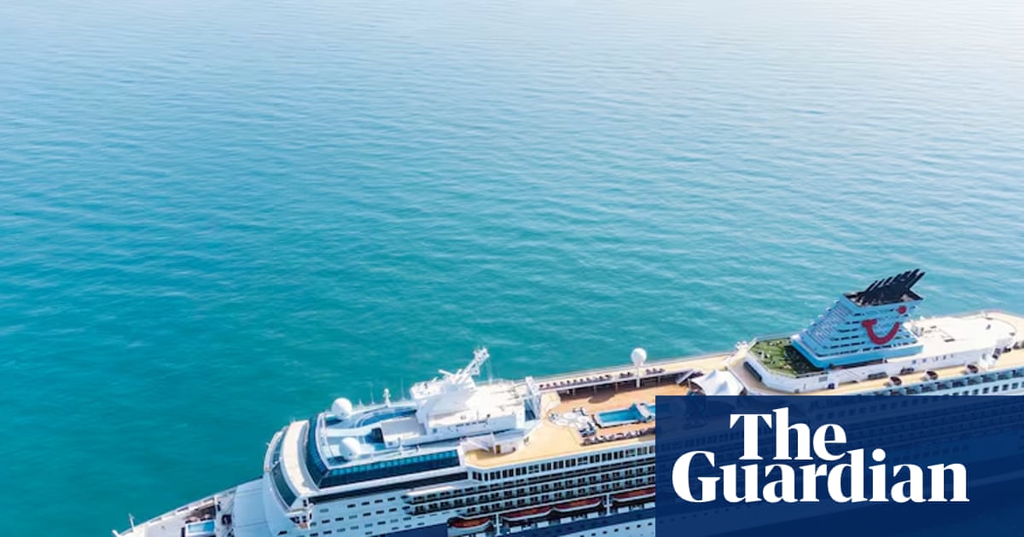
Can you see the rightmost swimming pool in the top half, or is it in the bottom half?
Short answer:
bottom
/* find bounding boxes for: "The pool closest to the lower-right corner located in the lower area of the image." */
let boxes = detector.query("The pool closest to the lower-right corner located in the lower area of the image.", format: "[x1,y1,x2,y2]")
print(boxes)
[643,398,697,424]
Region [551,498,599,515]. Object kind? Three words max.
boat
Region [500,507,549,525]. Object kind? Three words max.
boat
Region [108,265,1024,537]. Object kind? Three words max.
ship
